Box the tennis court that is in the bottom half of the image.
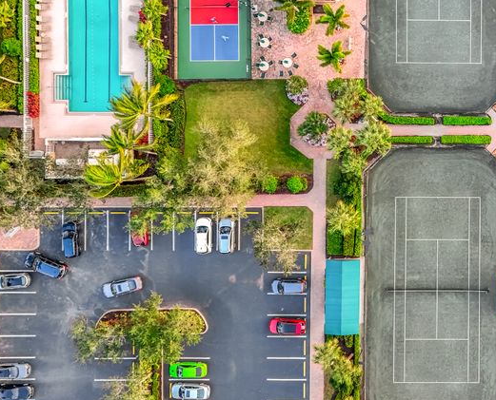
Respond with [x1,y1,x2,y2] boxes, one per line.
[364,148,496,400]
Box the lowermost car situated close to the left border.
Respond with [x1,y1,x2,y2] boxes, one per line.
[0,382,34,400]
